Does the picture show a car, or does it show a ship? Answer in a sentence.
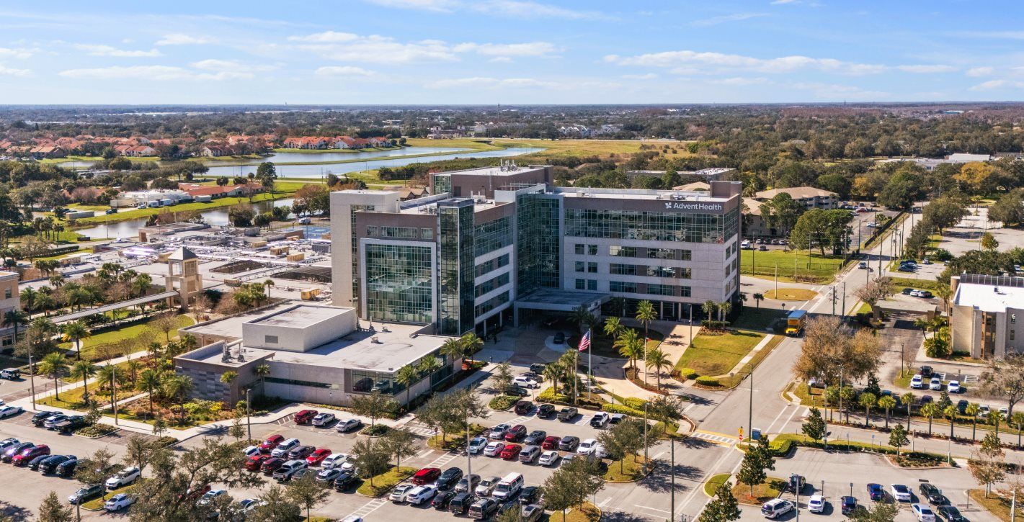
I can see a car in this picture.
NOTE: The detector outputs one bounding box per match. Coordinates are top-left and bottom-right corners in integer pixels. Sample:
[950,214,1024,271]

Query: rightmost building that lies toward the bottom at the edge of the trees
[952,272,1024,363]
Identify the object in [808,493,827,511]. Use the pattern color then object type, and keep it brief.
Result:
white car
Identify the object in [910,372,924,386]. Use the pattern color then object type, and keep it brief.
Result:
white car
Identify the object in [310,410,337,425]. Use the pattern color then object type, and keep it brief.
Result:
gray car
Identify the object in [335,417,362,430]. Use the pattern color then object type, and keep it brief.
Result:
gray vehicle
